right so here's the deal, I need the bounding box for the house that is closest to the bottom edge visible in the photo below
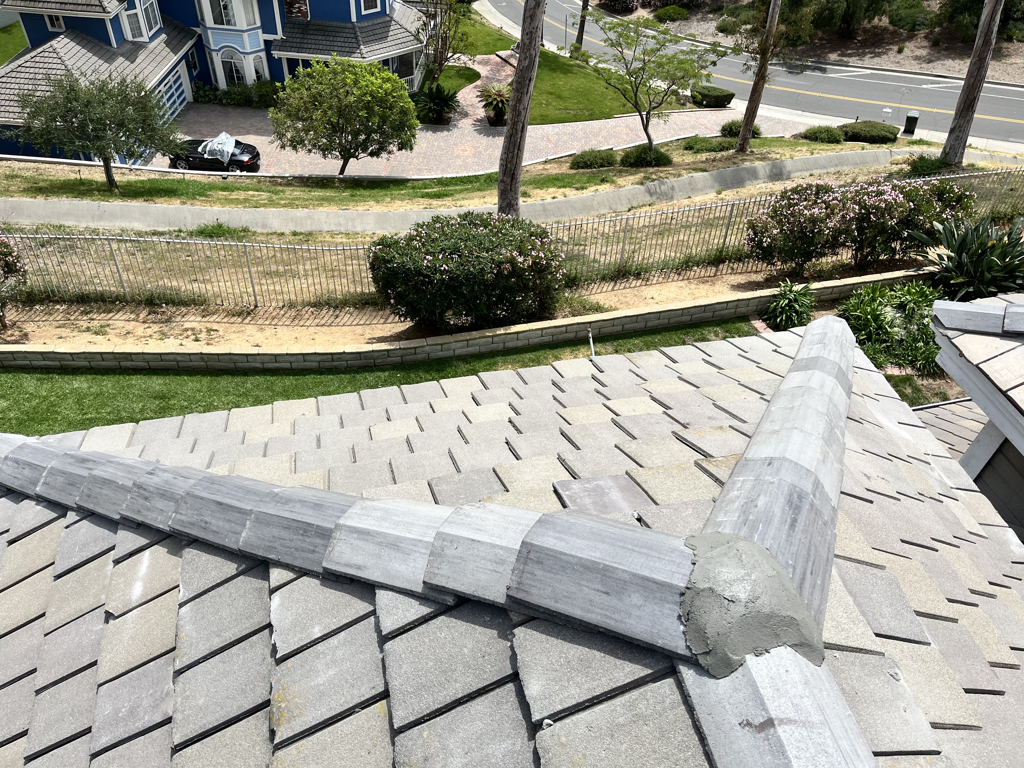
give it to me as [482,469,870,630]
[0,295,1024,768]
